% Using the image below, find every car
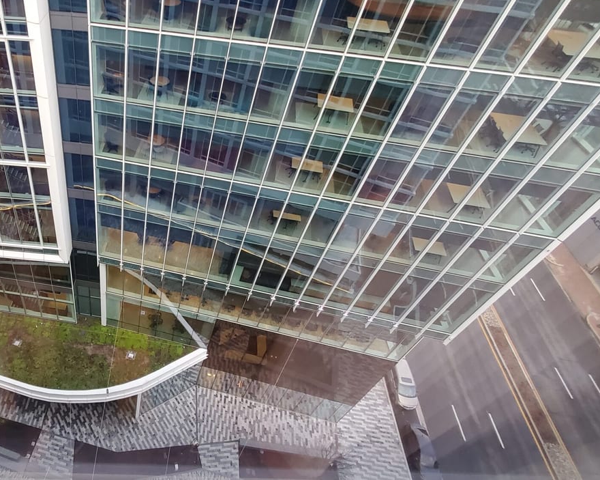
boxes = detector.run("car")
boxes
[406,431,445,480]
[387,361,420,411]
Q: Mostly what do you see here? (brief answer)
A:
buildings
